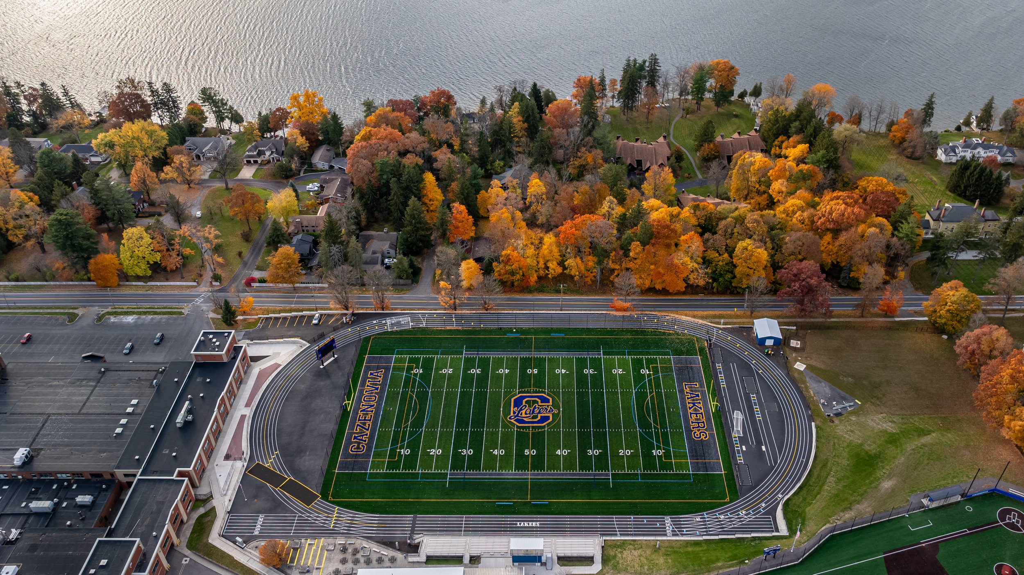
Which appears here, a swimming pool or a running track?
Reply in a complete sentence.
The one in the frame is a running track.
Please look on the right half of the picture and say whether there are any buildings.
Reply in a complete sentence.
Yes, the scene does show a building on the right half of the picture.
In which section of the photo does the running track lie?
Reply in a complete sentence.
The running track is in the bottom part of the image.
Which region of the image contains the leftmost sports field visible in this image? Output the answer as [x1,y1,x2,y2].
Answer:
[320,327,741,516]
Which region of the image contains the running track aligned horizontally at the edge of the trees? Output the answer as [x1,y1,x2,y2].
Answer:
[219,313,814,540]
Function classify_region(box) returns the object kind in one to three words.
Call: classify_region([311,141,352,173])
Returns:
house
